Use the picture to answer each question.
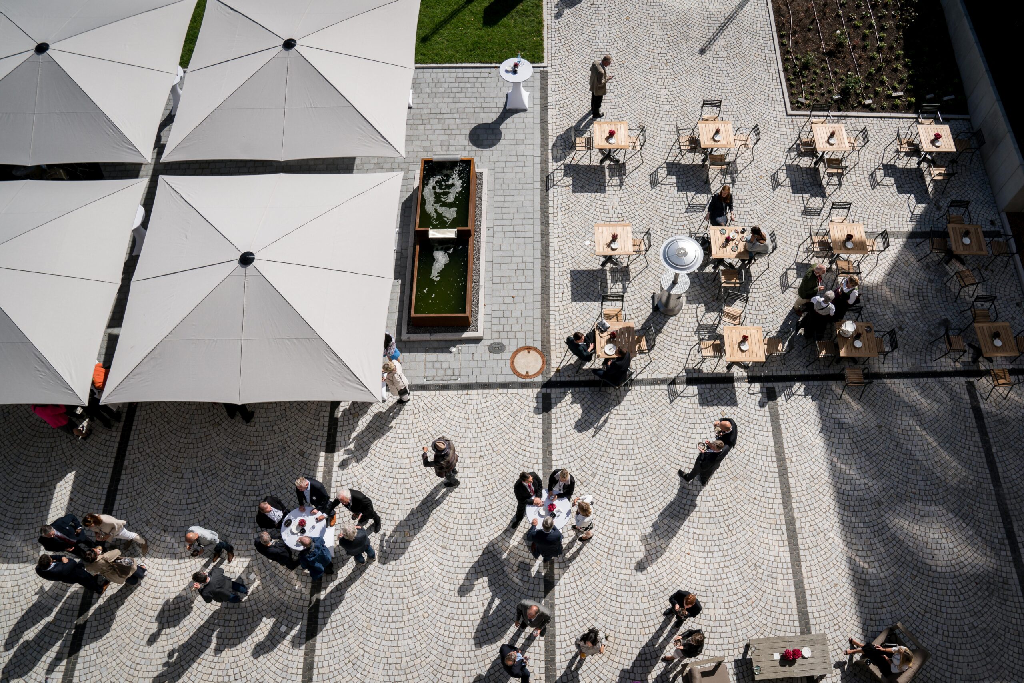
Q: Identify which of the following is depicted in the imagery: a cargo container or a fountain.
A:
fountain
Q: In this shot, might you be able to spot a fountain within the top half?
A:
Yes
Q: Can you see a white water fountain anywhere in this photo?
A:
No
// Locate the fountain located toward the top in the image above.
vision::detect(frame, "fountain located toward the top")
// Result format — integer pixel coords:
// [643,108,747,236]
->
[411,151,475,327]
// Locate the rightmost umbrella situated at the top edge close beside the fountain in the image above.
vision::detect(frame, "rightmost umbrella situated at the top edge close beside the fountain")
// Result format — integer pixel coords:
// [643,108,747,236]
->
[161,0,419,167]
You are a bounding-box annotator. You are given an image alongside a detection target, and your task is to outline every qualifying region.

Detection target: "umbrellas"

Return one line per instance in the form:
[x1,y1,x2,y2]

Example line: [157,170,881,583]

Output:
[99,173,404,406]
[161,0,419,167]
[0,0,193,170]
[0,178,150,408]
